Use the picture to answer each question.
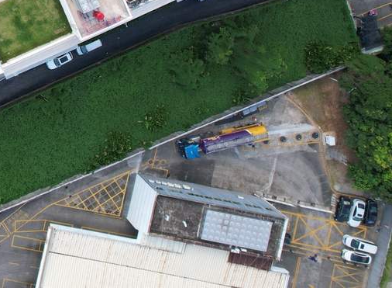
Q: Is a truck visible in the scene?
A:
Yes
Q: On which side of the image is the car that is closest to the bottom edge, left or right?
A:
right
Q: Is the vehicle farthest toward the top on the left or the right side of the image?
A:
left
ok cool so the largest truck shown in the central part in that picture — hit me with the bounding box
[183,118,280,162]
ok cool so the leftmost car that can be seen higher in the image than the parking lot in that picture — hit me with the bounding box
[45,51,75,69]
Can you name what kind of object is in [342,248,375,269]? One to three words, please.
car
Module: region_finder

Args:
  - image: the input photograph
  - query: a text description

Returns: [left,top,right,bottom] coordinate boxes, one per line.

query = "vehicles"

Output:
[348,199,367,229]
[283,224,295,254]
[364,198,381,228]
[73,36,107,58]
[344,234,382,257]
[342,248,375,269]
[333,194,352,224]
[183,118,280,162]
[45,51,75,69]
